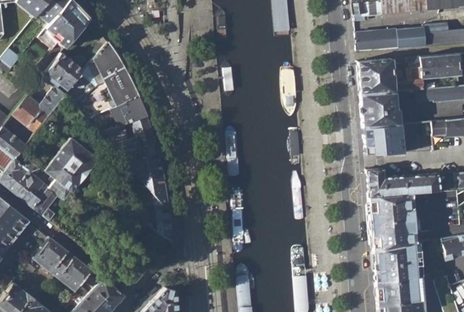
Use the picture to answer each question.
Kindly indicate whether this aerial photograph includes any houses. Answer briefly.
Yes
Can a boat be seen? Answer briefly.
Yes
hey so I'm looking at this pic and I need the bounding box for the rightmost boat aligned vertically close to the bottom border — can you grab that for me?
[292,242,310,312]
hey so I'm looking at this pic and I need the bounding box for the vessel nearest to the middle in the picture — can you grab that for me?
[226,122,241,176]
